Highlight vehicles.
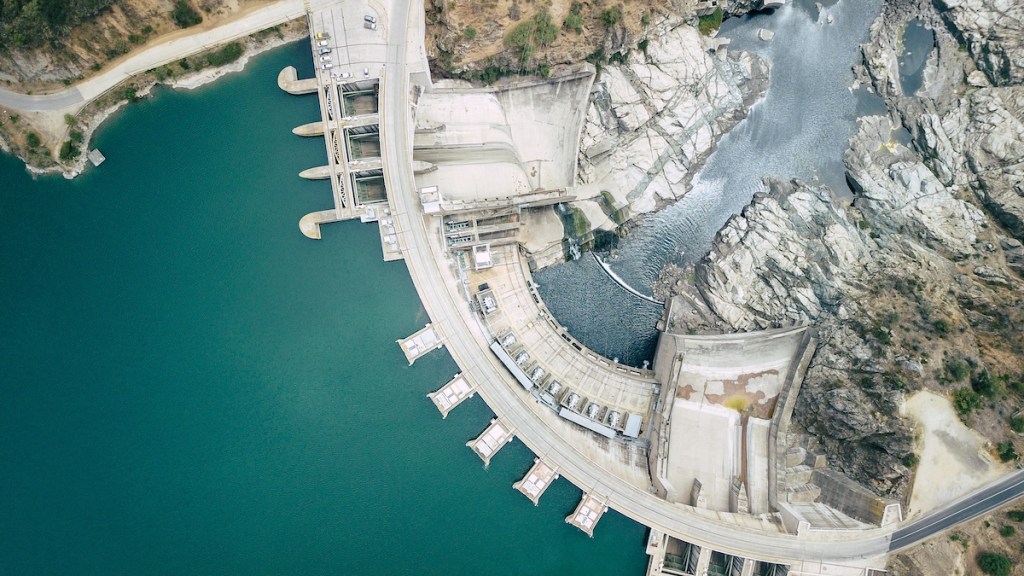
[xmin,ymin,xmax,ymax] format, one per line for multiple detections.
[364,15,375,22]
[315,32,332,39]
[320,55,331,61]
[321,63,332,69]
[317,40,327,46]
[364,22,377,29]
[319,48,330,54]
[340,71,352,77]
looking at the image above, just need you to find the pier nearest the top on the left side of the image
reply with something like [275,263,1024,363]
[279,66,320,96]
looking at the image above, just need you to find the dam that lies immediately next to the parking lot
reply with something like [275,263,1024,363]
[378,0,890,566]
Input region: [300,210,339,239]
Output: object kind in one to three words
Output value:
pier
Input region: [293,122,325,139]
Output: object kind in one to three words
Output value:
pier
